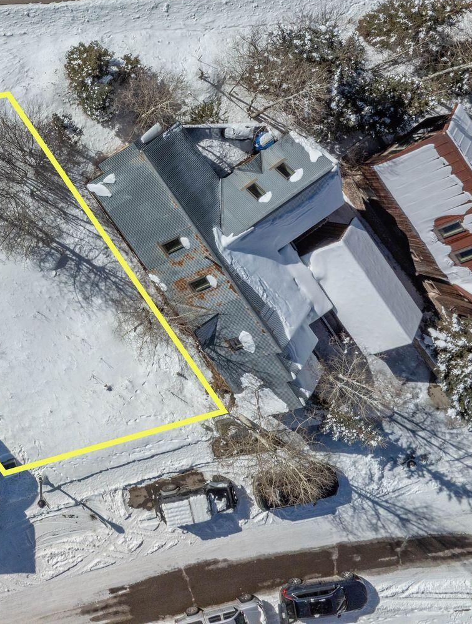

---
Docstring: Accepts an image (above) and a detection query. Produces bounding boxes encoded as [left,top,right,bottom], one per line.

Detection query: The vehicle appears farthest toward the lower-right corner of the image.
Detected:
[279,570,373,624]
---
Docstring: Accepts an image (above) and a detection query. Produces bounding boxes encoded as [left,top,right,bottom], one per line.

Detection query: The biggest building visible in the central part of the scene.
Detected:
[86,120,345,417]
